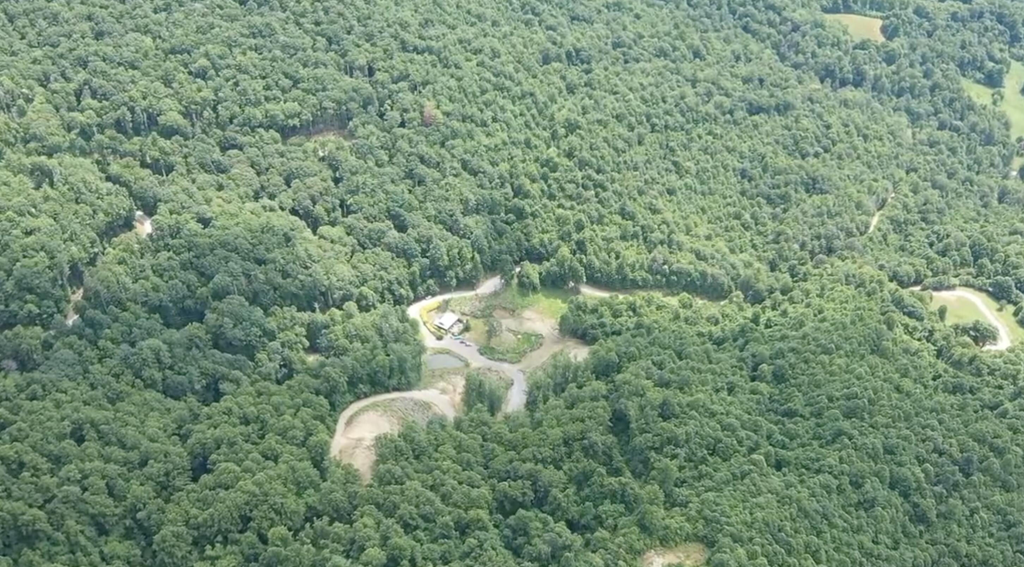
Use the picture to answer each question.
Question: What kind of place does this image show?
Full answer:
This looks like a forest.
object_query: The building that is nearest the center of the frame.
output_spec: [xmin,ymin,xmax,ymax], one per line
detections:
[434,313,463,334]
